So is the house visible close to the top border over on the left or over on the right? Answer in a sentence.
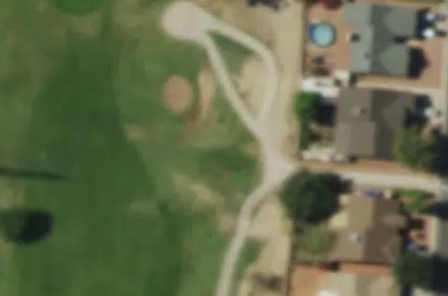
The house visible close to the top border sits on the right side.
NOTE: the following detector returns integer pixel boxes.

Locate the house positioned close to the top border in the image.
[341,2,417,75]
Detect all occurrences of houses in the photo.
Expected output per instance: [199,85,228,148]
[332,196,405,263]
[341,2,417,75]
[338,90,415,158]
[317,272,398,296]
